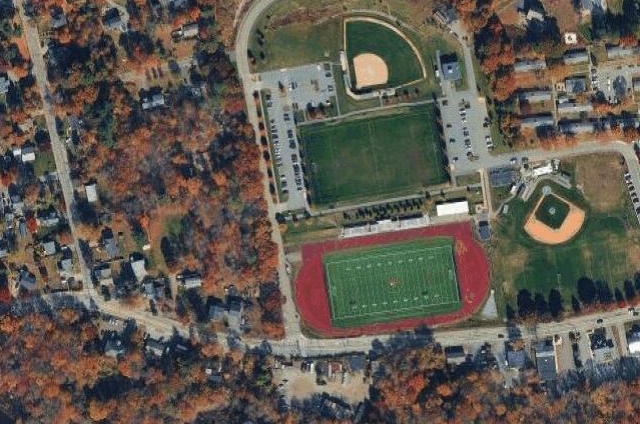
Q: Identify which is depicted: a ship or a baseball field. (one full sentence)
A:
The one in the frame is a baseball field.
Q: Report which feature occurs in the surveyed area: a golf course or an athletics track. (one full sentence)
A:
The image shows an athletics track.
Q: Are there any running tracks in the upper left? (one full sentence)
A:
No, no running track can be made out in the upper left.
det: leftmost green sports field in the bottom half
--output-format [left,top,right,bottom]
[323,236,461,328]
